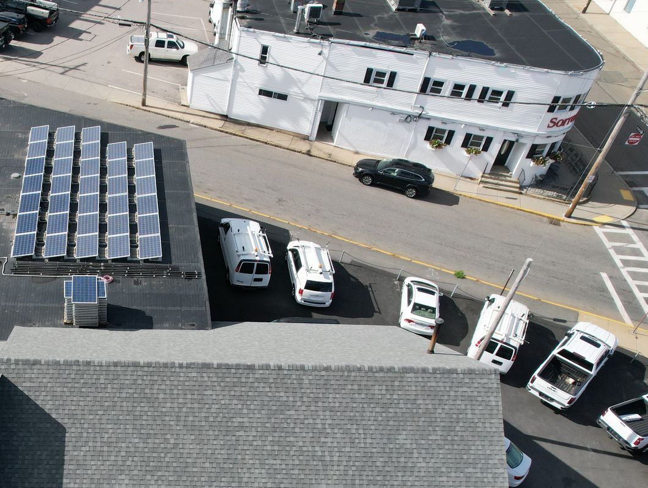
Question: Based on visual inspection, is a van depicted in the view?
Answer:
Yes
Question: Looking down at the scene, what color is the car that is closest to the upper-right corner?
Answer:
black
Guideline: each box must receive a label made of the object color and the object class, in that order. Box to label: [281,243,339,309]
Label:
white vehicle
